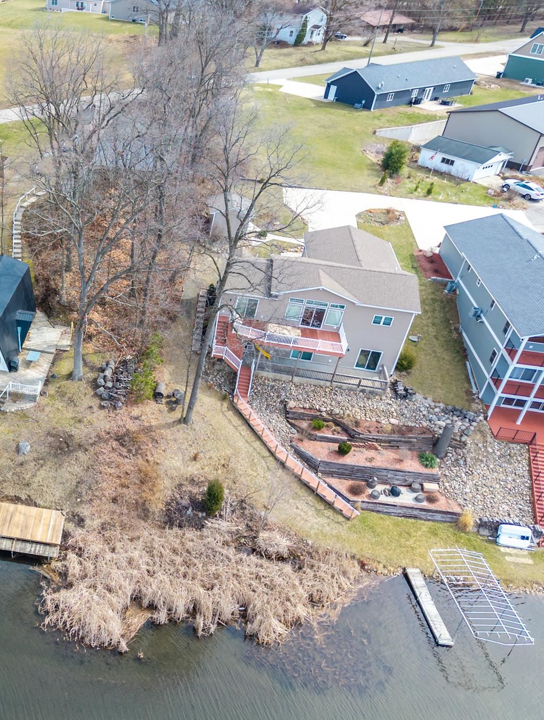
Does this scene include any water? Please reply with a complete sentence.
Yes, there's water in this view.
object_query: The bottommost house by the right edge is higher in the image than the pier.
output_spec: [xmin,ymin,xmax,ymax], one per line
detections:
[427,210,544,422]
